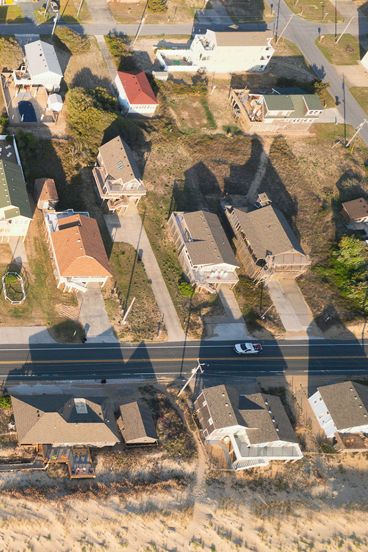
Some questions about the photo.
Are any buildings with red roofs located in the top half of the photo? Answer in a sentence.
Yes, in the top half of the photo there is a building with a red roof.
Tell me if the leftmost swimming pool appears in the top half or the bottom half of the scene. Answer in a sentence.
Seen from above, the leftmost swimming pool lies in the top half of the view.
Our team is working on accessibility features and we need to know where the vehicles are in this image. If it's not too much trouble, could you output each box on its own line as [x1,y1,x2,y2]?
[50,2,60,12]
[232,342,265,354]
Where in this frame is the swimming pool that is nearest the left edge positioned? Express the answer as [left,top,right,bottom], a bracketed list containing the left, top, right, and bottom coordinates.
[17,100,38,123]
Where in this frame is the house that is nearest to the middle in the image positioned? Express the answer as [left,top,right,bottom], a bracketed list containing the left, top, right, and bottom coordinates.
[153,211,246,303]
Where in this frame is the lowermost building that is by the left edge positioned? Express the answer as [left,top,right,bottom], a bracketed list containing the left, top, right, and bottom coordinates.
[0,382,117,480]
